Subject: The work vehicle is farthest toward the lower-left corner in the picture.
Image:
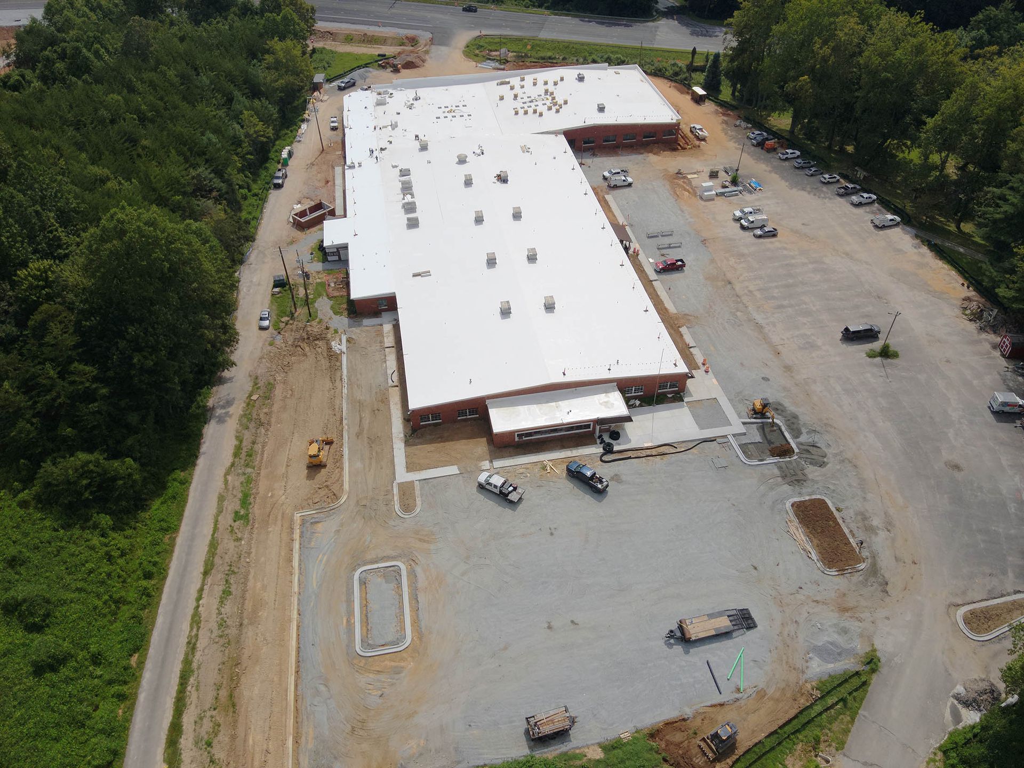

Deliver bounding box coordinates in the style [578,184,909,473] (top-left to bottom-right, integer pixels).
[306,437,334,468]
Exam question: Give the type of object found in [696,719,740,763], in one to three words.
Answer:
work vehicle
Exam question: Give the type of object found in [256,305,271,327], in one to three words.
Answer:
car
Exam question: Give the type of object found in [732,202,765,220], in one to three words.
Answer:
vehicle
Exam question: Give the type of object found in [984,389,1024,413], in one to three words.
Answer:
truck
